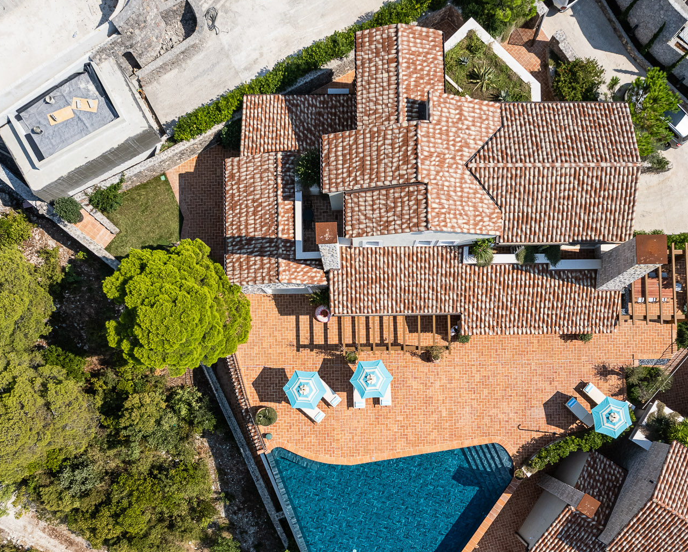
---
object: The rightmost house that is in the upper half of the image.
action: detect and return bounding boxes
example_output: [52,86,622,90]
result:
[223,20,668,336]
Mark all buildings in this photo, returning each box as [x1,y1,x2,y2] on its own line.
[223,20,668,336]
[522,441,688,552]
[0,58,171,201]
